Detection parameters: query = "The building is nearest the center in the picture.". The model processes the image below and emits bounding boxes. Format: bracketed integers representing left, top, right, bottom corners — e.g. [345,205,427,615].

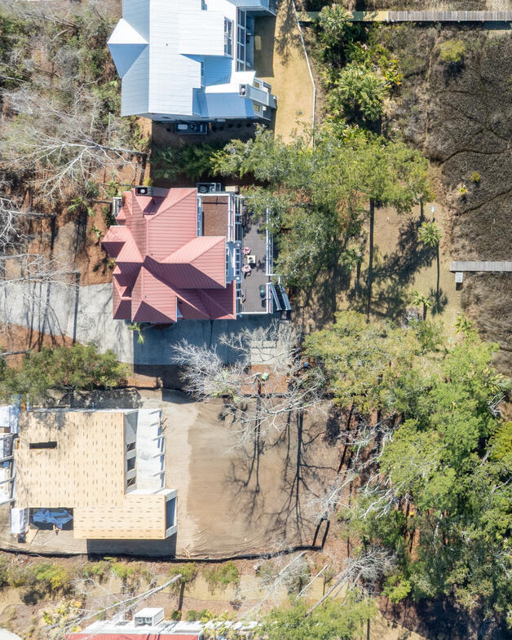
[99,185,292,322]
